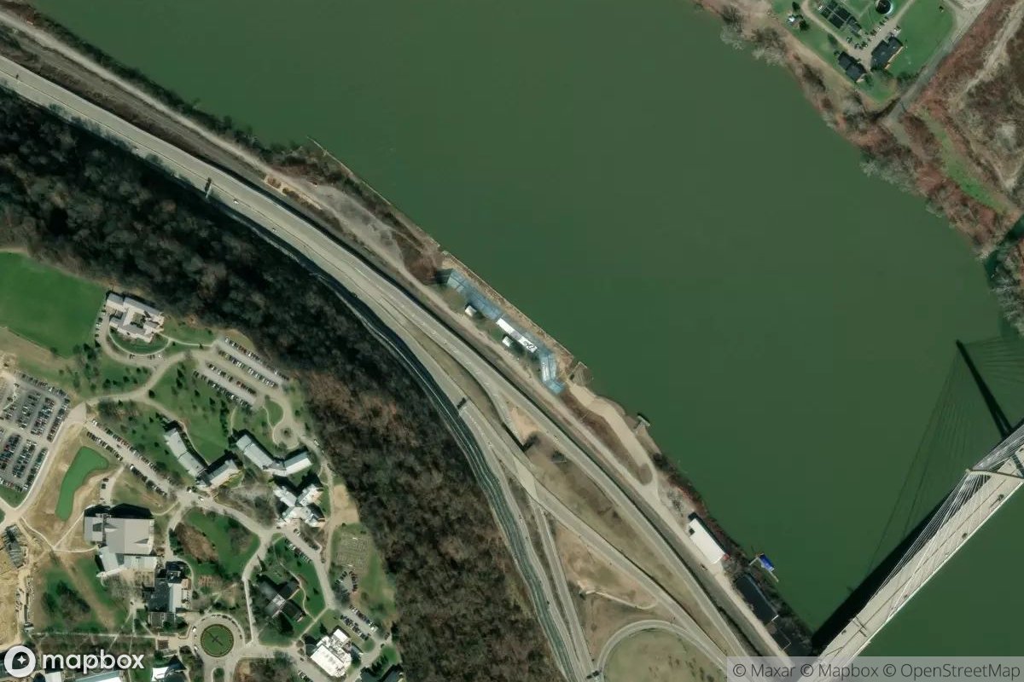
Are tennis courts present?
No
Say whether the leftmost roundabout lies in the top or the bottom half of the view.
bottom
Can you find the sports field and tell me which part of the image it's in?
left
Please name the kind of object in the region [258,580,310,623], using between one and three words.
building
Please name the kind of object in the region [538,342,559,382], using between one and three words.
shed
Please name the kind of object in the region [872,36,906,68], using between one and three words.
building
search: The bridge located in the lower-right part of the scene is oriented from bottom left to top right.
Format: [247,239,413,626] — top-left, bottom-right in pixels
[787,424,1024,682]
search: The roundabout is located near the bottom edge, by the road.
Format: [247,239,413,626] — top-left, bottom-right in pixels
[188,612,246,682]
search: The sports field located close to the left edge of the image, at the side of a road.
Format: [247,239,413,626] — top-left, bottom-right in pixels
[0,252,106,357]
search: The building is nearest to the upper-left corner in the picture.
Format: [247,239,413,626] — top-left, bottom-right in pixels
[106,292,169,343]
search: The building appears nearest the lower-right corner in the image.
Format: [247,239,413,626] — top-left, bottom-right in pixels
[768,623,794,650]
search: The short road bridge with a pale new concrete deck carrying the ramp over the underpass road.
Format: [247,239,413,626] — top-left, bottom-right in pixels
[512,448,560,515]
